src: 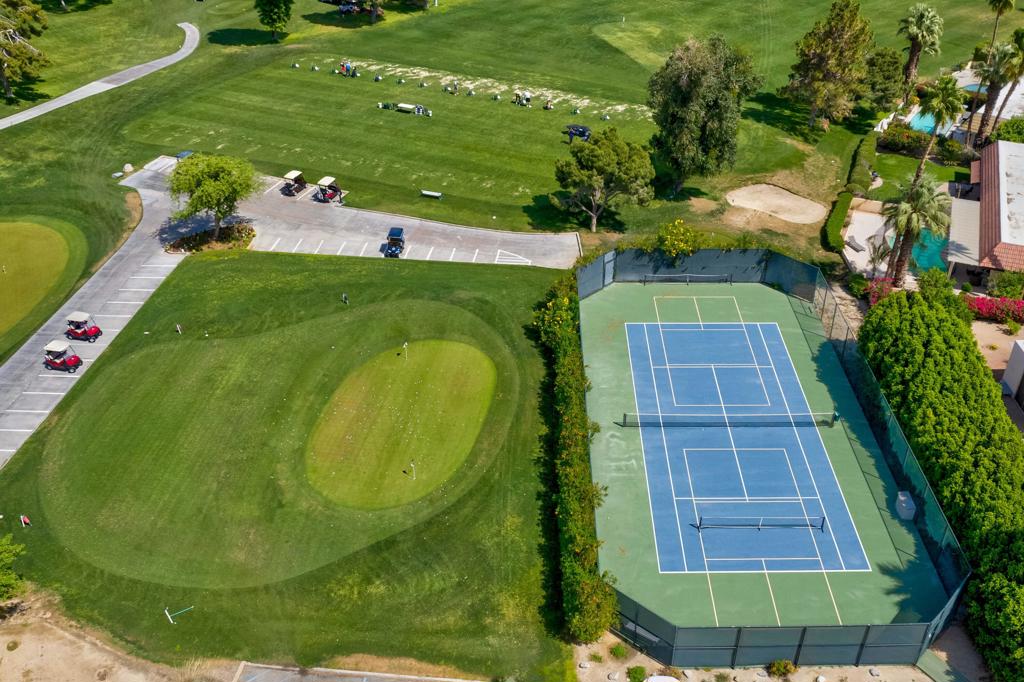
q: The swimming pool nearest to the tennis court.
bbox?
[882,220,948,276]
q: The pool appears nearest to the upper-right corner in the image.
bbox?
[960,81,988,96]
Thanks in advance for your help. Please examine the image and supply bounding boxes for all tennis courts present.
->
[583,282,949,667]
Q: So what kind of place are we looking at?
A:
golf course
